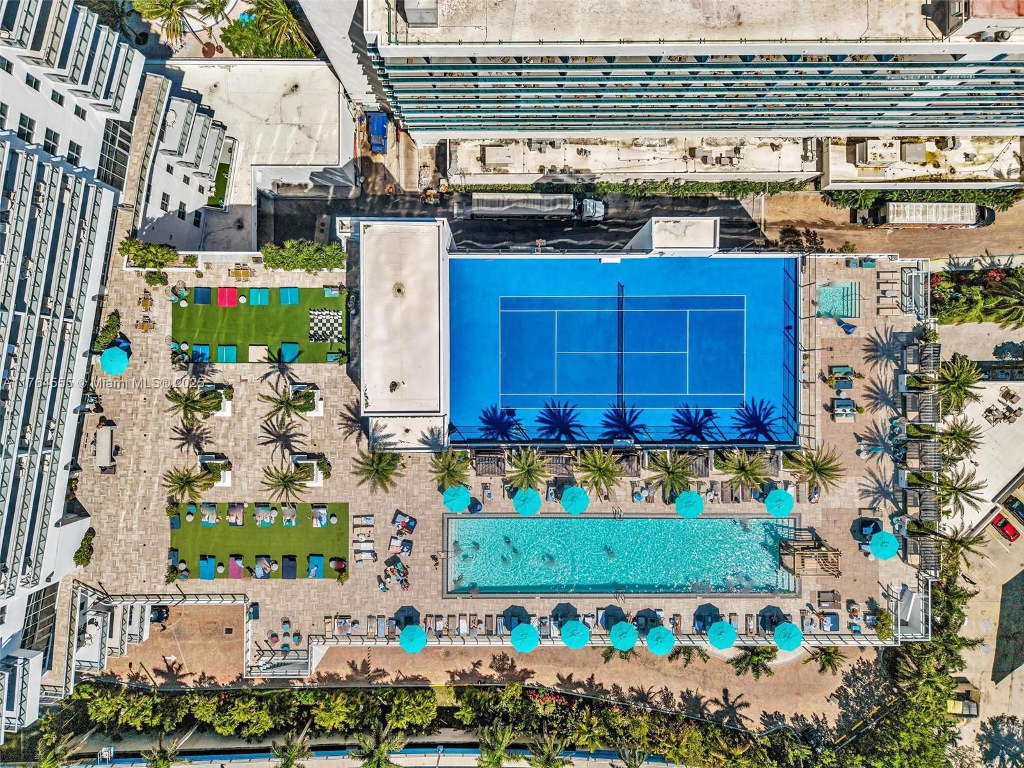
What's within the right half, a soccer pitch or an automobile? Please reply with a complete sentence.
It is an automobile that can be seen within the right half.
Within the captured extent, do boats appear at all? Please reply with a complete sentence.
No, I can't see a single boat in this photo.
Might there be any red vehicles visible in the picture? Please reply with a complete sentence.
Yes, there's a red vehicle down there.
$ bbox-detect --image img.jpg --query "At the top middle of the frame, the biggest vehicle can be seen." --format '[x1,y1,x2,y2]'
[455,194,606,223]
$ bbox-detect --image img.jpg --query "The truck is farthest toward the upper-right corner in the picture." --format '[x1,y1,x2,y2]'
[839,202,990,231]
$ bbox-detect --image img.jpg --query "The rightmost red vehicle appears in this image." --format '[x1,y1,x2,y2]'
[985,511,1023,545]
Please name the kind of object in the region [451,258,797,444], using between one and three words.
tennis court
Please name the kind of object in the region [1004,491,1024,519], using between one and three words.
car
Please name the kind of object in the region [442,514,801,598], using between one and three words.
swimming pool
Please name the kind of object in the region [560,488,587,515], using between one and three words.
umbrella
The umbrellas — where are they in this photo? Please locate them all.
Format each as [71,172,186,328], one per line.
[772,621,800,649]
[100,345,133,374]
[644,626,672,654]
[512,622,541,651]
[675,489,704,518]
[444,484,472,511]
[511,488,540,517]
[705,617,734,648]
[467,503,483,515]
[766,490,793,517]
[397,625,425,653]
[559,619,586,647]
[608,618,637,648]
[867,533,898,561]
[560,488,587,515]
